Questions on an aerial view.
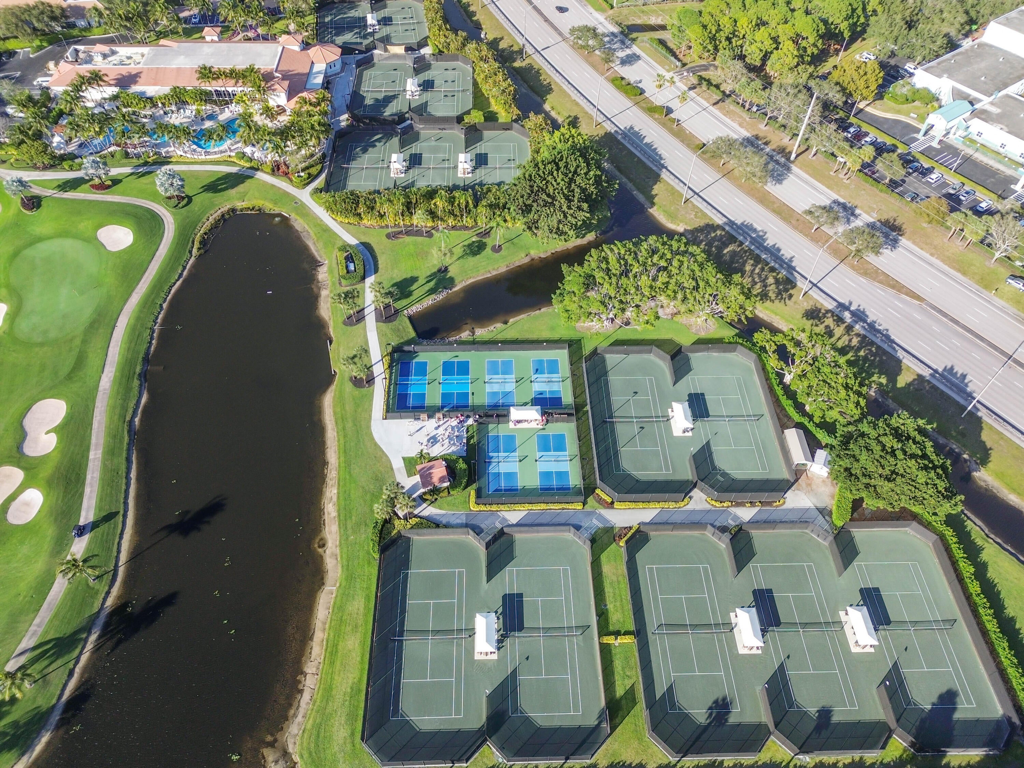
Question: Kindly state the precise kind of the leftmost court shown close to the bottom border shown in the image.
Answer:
tennis court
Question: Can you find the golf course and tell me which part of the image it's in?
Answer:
left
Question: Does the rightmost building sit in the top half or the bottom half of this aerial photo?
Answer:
top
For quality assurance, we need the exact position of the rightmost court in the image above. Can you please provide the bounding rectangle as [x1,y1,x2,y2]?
[837,530,1008,749]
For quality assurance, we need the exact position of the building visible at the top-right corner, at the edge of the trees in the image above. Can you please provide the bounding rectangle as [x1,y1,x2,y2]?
[911,7,1024,175]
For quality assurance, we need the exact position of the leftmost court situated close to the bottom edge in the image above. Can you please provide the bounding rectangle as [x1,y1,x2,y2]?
[363,538,486,762]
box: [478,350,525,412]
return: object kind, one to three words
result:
sports court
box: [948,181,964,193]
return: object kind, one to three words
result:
vehicle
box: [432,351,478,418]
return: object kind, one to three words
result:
sports court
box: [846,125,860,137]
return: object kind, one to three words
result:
vehicle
